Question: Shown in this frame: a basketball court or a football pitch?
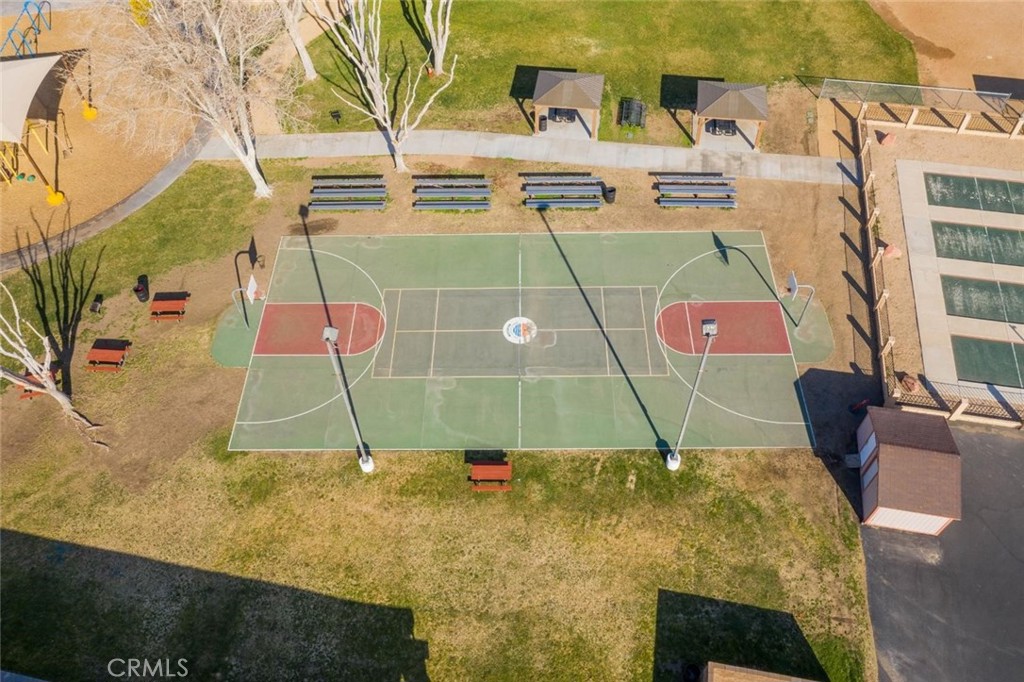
basketball court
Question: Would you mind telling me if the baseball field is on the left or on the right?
right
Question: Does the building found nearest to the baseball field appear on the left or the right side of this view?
right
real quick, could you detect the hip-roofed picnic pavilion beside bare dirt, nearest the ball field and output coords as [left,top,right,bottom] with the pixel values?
[692,78,769,152]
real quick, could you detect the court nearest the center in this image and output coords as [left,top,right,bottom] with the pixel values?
[210,232,833,451]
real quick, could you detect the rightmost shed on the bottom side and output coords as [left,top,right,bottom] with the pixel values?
[837,402,963,536]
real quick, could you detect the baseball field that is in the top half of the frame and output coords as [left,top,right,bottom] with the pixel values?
[867,0,1024,107]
